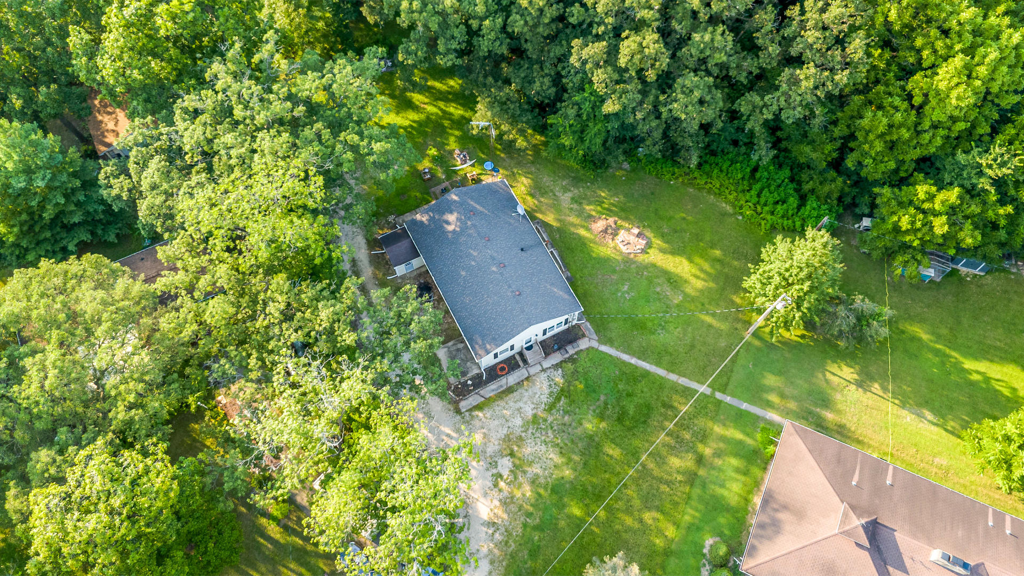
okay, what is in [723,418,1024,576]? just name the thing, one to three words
house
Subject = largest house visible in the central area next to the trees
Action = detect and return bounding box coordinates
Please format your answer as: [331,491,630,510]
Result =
[375,178,585,379]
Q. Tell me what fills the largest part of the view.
trees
